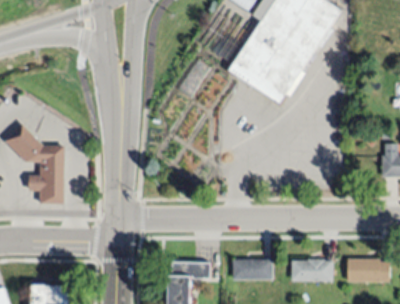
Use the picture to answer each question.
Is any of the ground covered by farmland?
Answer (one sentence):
No, farmland can't be seen anywhere here.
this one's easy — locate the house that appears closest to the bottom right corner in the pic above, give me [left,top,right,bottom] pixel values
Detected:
[347,259,392,284]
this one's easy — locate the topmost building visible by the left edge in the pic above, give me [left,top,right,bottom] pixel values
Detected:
[6,127,64,204]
